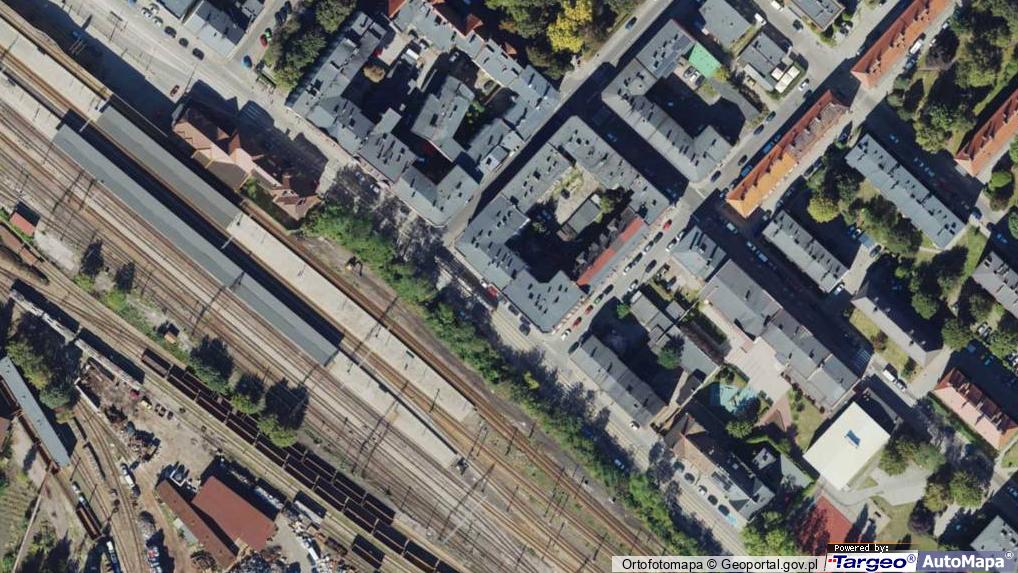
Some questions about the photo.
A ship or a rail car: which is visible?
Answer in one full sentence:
The one in the frame is a rail car.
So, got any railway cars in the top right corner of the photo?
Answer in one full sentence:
No, no railway car is visible in the top right corner of the photo.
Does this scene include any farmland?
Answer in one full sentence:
No, the picture contains no farmland.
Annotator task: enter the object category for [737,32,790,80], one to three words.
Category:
building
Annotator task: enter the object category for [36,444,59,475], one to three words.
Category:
rail car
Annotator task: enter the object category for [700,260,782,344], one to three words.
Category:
house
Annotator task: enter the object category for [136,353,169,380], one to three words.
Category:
rail car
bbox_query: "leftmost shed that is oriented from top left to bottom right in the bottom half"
[0,355,71,470]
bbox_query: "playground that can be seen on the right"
[712,385,759,418]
